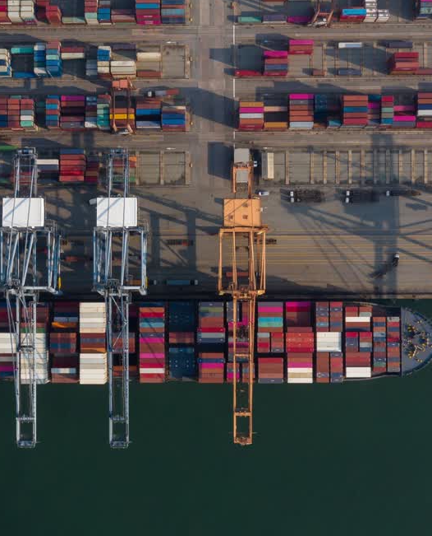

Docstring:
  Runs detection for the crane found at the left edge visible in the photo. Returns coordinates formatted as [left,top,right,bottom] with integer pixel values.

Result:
[0,147,76,446]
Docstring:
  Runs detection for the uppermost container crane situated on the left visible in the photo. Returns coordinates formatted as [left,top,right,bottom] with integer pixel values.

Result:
[110,74,136,138]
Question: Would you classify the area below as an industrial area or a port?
port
